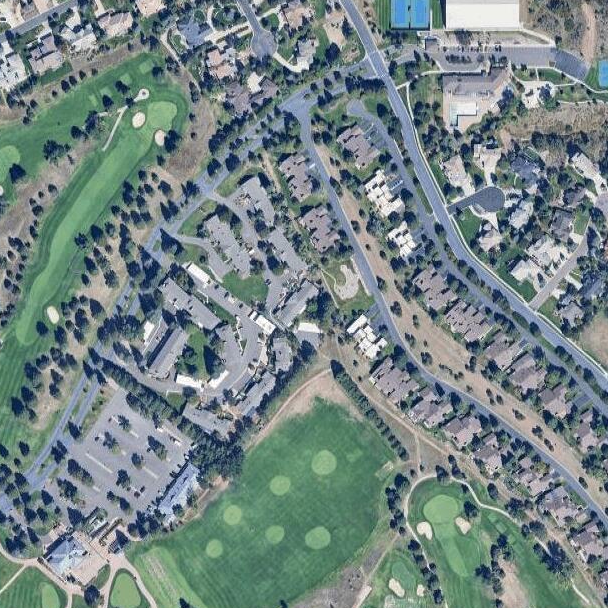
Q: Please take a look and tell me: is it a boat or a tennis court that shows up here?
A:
tennis court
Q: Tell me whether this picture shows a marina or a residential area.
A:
residential area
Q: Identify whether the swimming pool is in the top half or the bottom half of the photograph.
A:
top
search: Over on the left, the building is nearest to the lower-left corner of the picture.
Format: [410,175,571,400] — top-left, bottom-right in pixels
[39,535,88,582]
